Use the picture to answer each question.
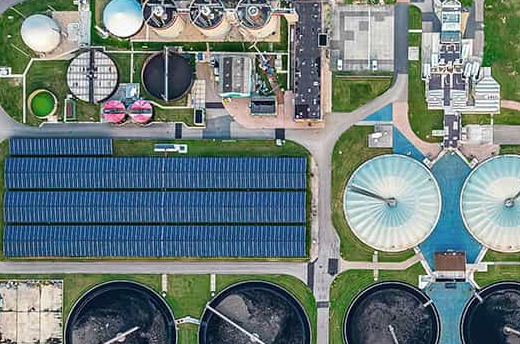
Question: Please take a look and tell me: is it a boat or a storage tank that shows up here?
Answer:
storage tank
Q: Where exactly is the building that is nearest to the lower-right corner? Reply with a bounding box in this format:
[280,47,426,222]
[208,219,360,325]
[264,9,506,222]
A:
[435,249,466,280]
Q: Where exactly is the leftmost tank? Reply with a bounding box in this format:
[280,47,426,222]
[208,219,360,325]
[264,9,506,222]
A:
[29,89,59,123]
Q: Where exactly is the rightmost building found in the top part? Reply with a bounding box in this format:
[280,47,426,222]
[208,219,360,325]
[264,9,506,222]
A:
[422,0,500,148]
